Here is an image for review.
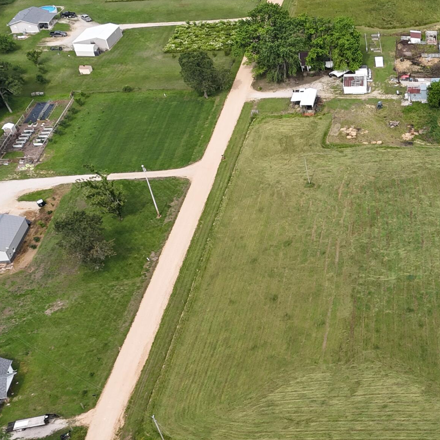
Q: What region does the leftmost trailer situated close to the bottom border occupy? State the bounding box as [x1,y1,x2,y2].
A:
[0,412,63,437]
